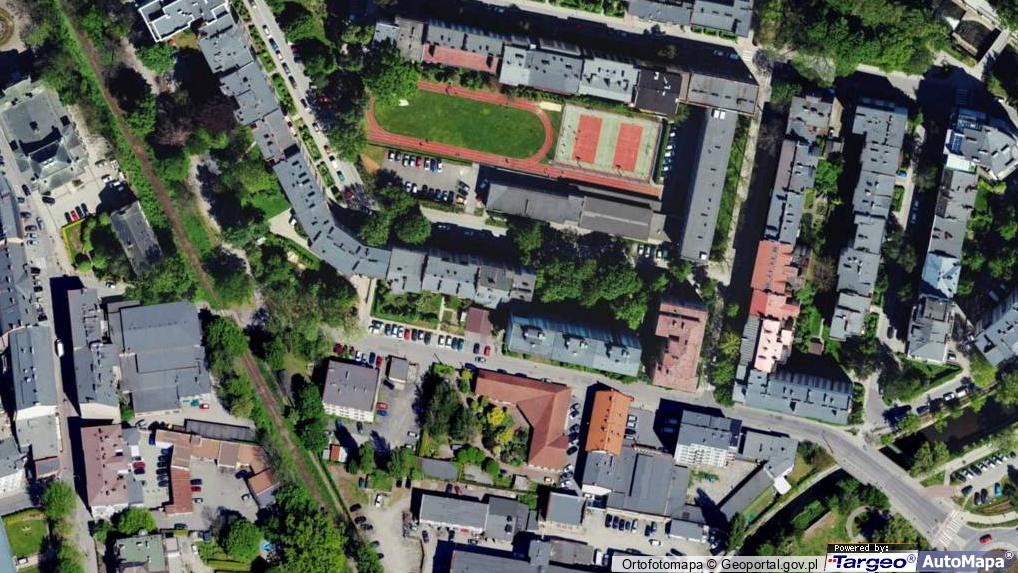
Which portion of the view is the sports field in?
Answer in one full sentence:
You can find the sports field in the top area of the picture.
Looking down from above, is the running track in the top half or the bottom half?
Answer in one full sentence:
Seen from above, the running track lies in the top half of the view.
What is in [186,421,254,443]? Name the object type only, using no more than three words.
shed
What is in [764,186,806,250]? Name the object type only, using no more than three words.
house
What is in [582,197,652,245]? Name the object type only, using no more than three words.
building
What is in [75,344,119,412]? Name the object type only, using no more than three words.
house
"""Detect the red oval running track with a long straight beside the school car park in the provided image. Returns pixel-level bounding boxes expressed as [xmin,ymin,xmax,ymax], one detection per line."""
[367,82,662,195]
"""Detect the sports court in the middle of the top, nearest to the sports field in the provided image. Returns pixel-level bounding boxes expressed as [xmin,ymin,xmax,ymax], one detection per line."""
[556,102,663,183]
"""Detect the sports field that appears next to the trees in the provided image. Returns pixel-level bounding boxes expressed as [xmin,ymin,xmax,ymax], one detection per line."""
[375,91,544,160]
